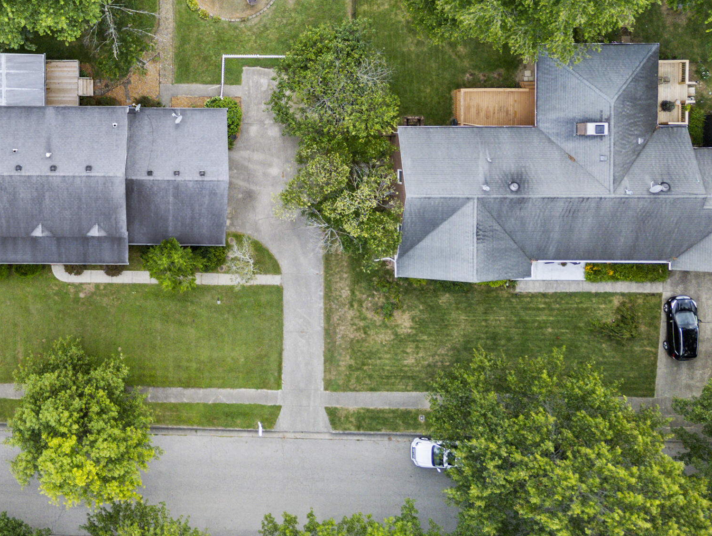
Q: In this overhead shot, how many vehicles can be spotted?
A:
2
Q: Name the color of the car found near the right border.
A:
black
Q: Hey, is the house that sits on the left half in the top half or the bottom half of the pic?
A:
top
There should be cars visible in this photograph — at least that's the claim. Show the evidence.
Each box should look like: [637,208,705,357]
[412,438,479,472]
[662,293,703,360]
